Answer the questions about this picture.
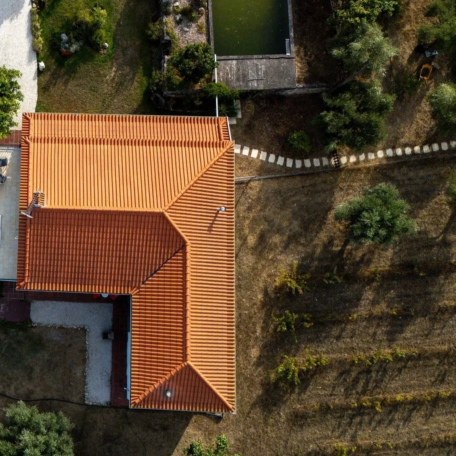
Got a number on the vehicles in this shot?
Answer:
0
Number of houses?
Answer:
1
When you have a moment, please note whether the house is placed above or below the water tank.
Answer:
below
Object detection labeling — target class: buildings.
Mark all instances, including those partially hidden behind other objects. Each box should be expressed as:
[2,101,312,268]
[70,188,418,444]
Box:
[15,111,239,415]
